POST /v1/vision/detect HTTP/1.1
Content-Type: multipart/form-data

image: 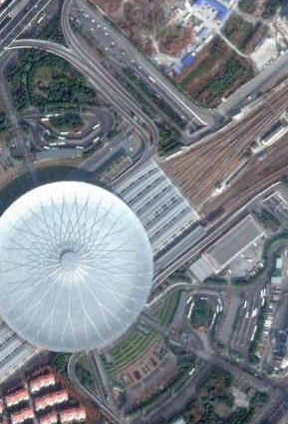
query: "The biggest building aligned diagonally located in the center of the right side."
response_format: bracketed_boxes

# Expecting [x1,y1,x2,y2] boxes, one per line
[203,214,266,269]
